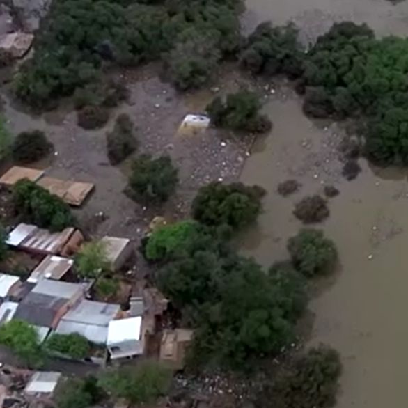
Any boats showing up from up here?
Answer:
No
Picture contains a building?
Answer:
Yes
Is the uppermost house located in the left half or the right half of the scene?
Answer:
left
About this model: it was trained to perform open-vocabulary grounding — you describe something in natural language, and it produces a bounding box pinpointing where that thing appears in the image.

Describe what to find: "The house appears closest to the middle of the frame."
[100,237,134,274]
